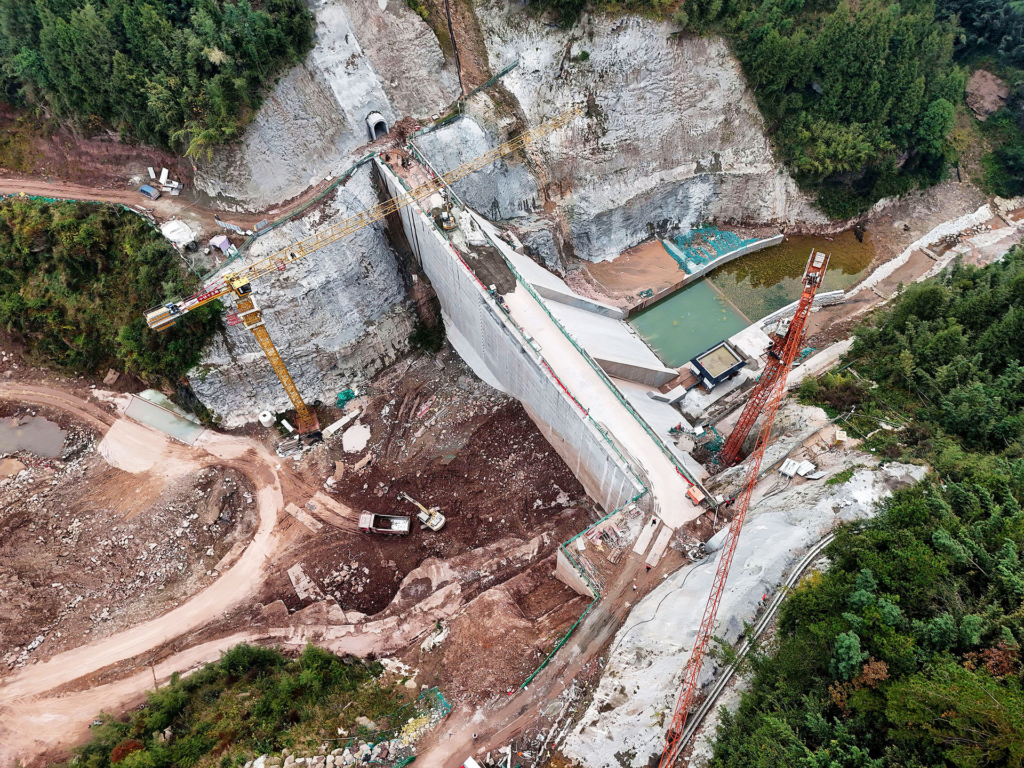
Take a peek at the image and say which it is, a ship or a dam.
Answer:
dam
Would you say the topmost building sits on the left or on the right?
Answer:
right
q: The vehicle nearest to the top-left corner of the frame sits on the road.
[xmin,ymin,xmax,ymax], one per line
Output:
[136,184,161,197]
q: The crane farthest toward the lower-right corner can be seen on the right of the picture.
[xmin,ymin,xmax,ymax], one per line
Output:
[657,247,833,768]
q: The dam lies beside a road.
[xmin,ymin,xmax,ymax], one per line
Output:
[378,145,720,521]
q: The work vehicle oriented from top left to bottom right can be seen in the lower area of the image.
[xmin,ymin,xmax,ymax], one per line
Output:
[403,490,446,528]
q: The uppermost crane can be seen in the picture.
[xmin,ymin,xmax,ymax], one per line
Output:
[131,104,587,436]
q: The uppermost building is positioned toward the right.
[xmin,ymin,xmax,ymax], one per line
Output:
[689,346,744,394]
